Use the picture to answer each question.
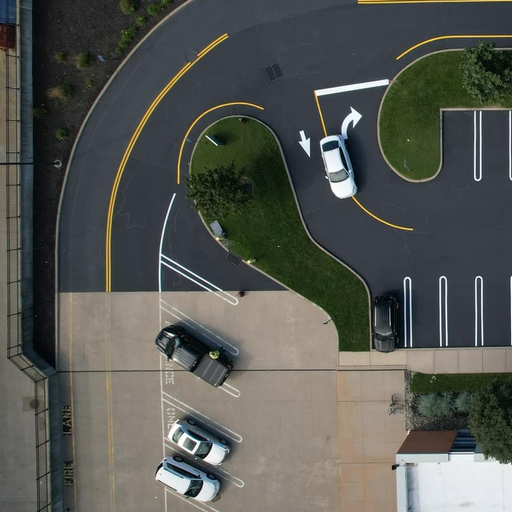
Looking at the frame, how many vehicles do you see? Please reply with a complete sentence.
Altogether the scene contains 5 vehicles.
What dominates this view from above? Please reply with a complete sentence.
The largest share of the image is taken up by paved ground.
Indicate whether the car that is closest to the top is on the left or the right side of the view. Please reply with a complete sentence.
The car that is closest to the top sits on the right side.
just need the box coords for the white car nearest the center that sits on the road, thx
[321,134,359,201]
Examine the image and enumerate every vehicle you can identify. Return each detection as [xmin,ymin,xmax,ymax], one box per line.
[321,134,359,201]
[155,324,235,388]
[154,451,223,503]
[370,294,399,351]
[166,415,234,466]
